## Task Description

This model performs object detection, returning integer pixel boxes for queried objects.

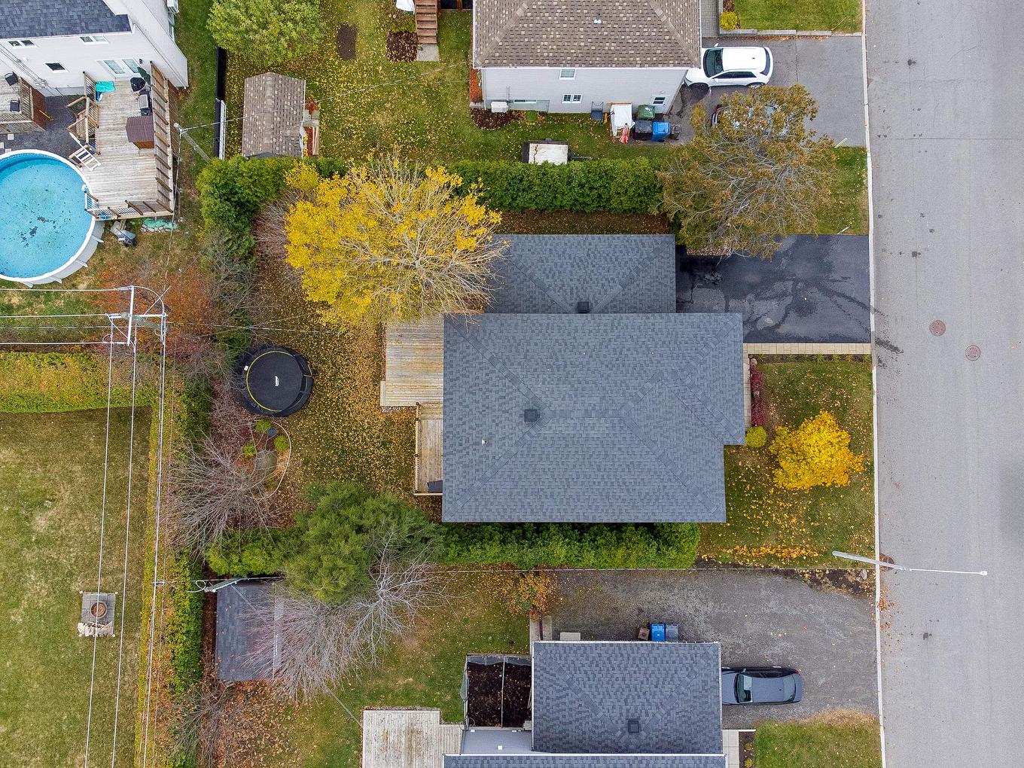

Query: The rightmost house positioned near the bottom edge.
[443,637,727,768]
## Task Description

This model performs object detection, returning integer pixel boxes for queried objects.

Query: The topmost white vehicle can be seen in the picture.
[688,42,771,86]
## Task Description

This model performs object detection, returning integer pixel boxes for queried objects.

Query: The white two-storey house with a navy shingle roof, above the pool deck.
[0,0,186,96]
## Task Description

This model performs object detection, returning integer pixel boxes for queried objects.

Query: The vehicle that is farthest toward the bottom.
[721,665,805,710]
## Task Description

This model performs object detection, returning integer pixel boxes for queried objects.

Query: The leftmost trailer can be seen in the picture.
[525,135,595,166]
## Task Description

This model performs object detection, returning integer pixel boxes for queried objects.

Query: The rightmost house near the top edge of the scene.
[473,0,704,114]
